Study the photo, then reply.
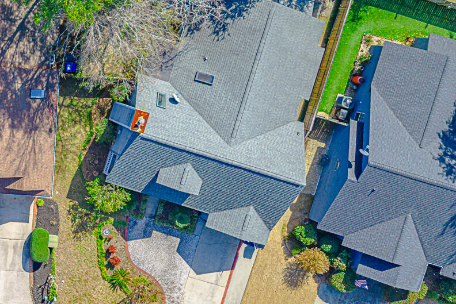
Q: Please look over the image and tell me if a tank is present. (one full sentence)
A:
No, no tank is visible in the scene.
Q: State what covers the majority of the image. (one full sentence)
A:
Most of the picture is covered by buildings.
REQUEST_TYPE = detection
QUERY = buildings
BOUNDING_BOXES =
[307,33,456,292]
[101,0,327,249]
[0,0,61,198]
